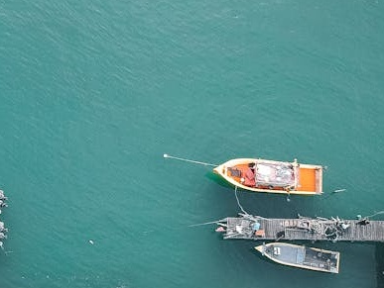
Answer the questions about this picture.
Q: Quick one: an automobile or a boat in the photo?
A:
boat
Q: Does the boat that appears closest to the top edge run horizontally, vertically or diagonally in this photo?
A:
horizontally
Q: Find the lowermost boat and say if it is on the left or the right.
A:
right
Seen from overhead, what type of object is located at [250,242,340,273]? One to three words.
boat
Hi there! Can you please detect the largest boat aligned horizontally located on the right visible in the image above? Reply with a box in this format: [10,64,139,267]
[210,159,324,201]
